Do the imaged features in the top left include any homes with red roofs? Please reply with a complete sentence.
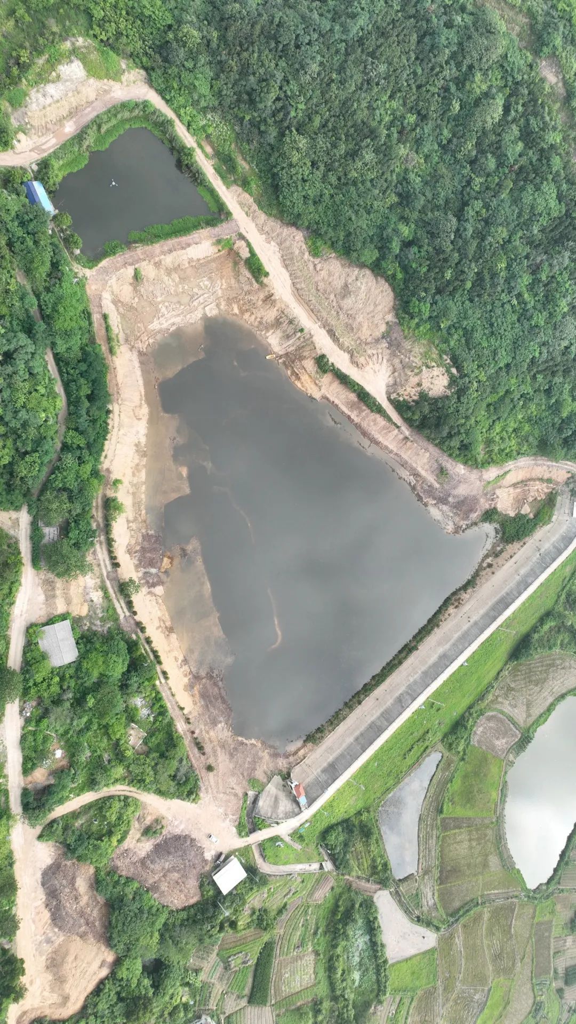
No, no home with a red roof can be made out in the top left.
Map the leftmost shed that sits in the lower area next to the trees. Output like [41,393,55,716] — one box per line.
[40,620,79,666]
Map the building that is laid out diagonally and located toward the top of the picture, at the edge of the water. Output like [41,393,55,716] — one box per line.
[23,181,53,218]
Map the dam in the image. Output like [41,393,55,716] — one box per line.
[293,472,576,848]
